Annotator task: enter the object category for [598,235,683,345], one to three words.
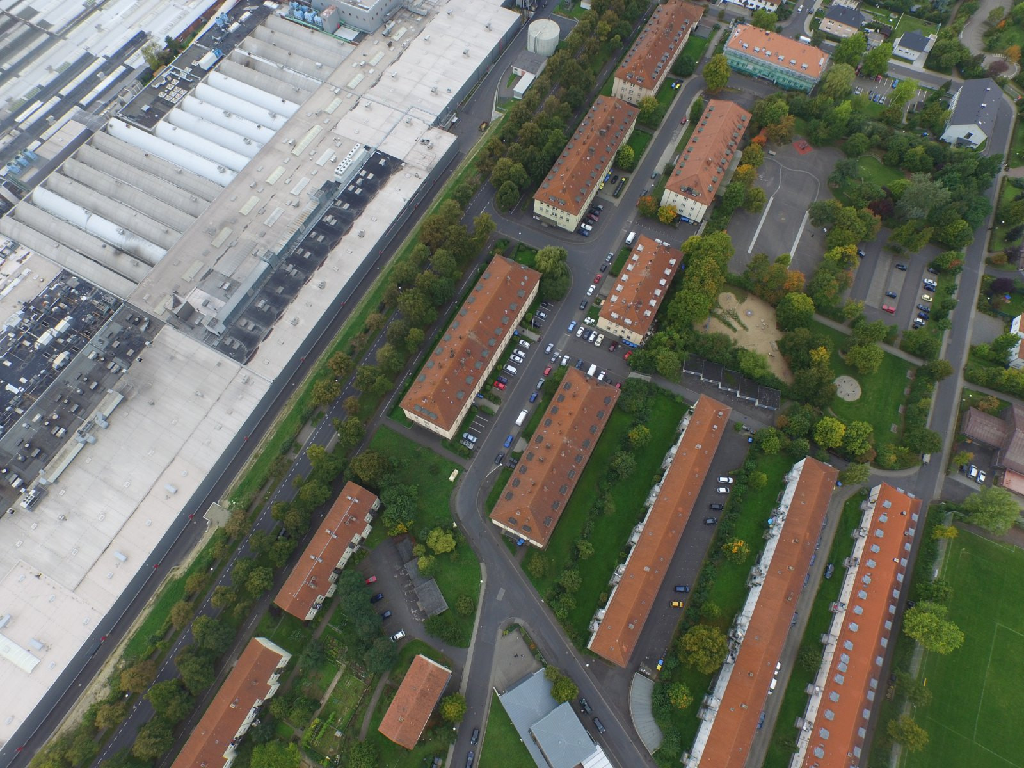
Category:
building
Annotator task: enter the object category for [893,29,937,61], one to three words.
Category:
house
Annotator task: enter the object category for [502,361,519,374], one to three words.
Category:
vehicle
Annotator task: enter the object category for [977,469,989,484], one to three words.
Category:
vehicle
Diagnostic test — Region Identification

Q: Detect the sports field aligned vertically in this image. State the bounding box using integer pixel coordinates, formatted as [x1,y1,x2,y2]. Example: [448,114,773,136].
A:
[908,530,1024,768]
